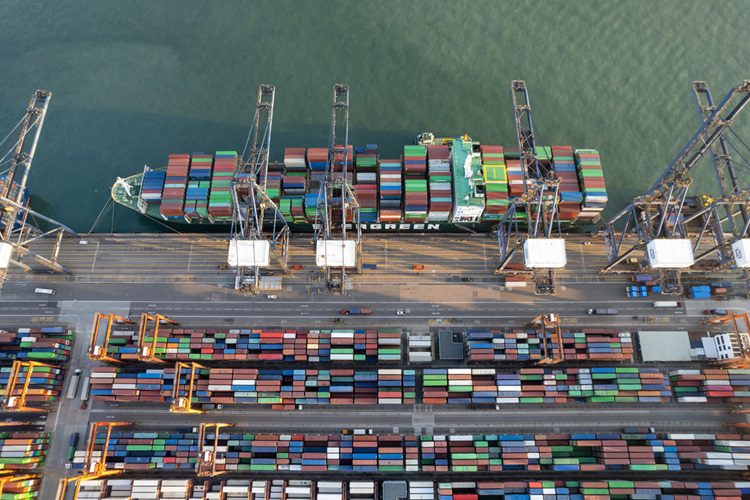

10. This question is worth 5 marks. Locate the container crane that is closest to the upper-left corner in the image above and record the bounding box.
[0,86,83,277]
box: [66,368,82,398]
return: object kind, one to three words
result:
vehicle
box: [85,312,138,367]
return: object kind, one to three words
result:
container crane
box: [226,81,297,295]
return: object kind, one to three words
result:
container crane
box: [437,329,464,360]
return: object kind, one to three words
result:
building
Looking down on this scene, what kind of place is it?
port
